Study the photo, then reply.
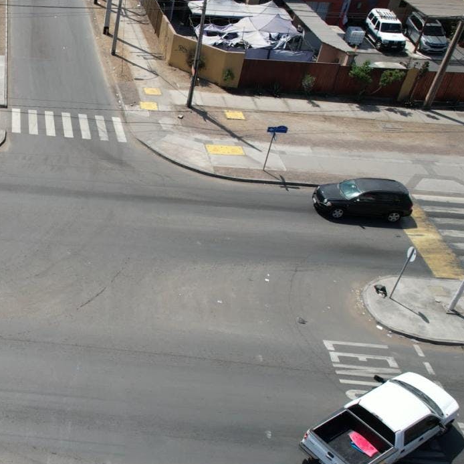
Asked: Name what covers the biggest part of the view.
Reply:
paved ground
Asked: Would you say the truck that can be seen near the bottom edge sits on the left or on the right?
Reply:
right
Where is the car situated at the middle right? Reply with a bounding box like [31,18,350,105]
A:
[314,176,420,223]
